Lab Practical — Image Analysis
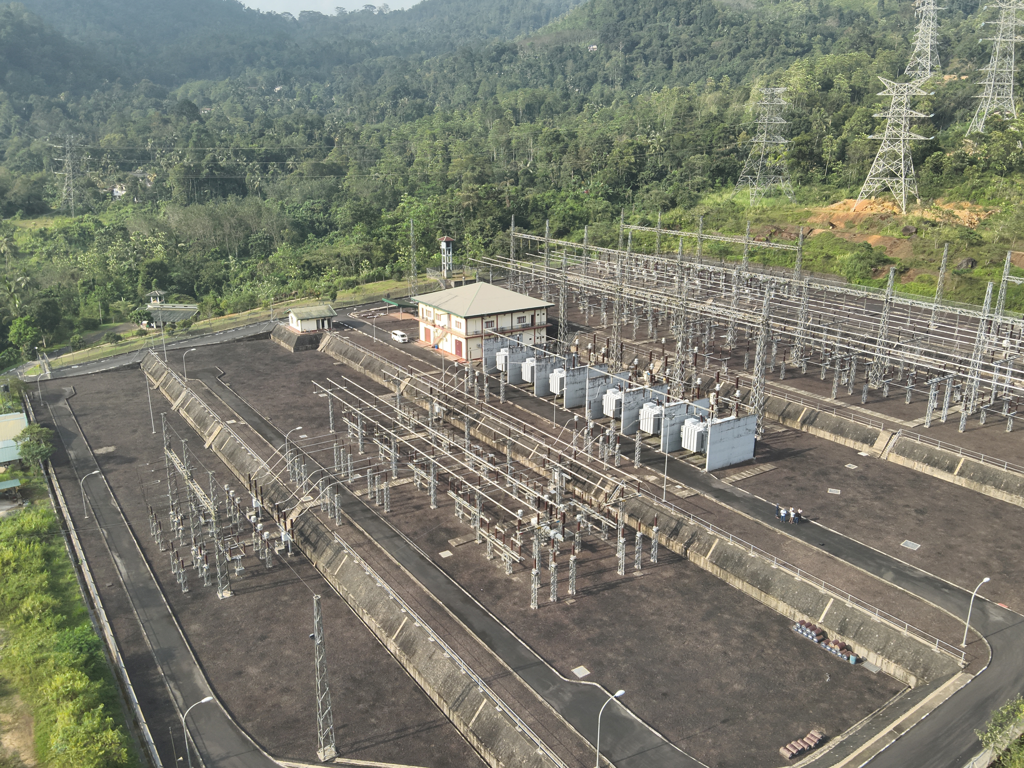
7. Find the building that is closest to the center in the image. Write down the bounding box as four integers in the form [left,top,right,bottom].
[411,282,561,363]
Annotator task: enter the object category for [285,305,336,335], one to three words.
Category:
building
